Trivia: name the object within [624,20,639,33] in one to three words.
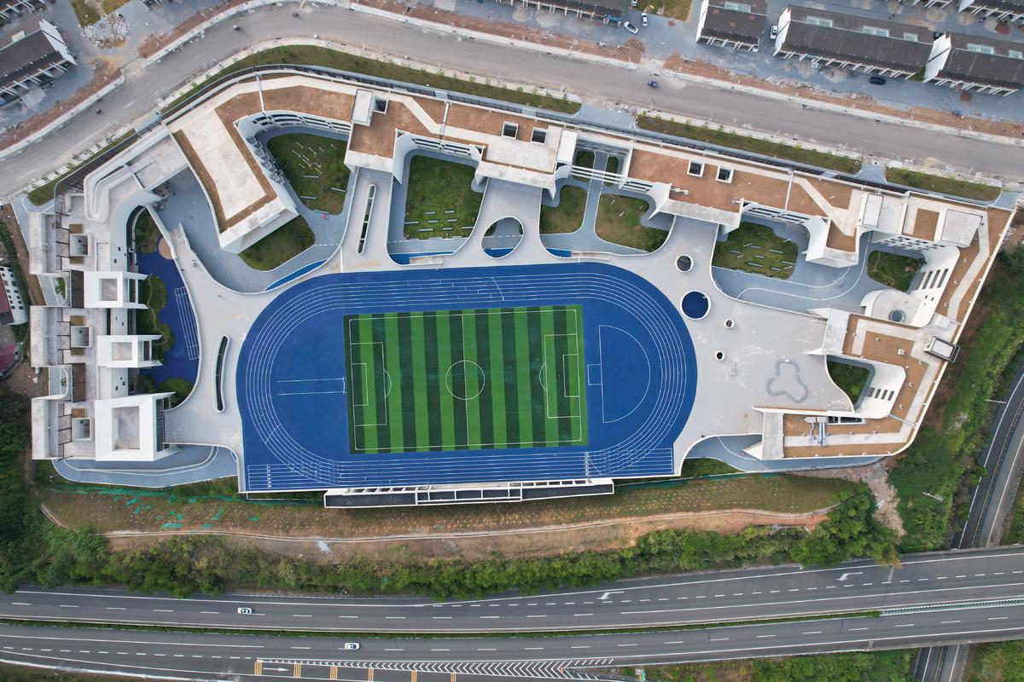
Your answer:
vehicle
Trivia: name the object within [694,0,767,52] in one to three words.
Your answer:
house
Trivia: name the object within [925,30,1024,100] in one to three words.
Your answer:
house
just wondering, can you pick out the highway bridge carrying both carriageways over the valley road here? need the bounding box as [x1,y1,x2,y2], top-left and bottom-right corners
[867,540,1024,652]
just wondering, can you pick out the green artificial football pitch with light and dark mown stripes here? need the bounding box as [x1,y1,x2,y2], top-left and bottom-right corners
[344,305,587,454]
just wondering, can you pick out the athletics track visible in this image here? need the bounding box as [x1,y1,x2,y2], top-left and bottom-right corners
[237,262,697,492]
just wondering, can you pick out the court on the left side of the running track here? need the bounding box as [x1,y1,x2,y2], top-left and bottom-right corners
[130,251,199,387]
